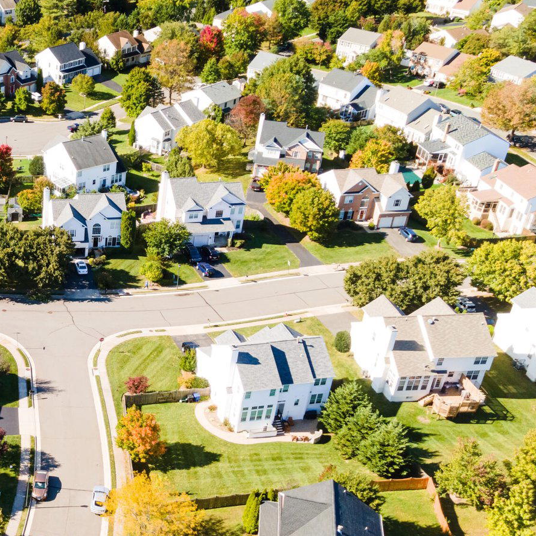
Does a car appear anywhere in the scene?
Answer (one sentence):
Yes, I can see a car in this picture.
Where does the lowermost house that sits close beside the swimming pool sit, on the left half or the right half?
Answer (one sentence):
The lowermost house that sits close beside the swimming pool sits on the right side.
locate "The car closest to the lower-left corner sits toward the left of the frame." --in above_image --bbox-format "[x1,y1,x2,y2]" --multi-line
[32,469,49,499]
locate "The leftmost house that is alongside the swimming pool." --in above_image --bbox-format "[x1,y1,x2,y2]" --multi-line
[331,148,404,233]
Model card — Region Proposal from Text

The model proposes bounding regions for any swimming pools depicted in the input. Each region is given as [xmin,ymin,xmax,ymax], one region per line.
[401,165,421,184]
